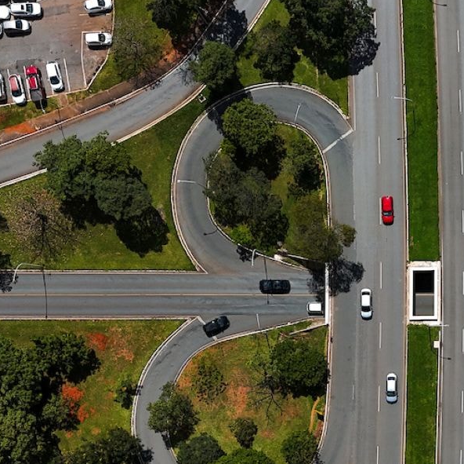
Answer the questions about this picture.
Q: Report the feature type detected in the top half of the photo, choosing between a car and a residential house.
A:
car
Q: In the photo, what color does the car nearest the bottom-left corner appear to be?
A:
black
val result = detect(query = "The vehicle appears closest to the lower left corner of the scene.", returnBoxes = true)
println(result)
[203,316,232,335]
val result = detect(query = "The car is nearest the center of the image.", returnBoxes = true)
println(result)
[260,279,290,294]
